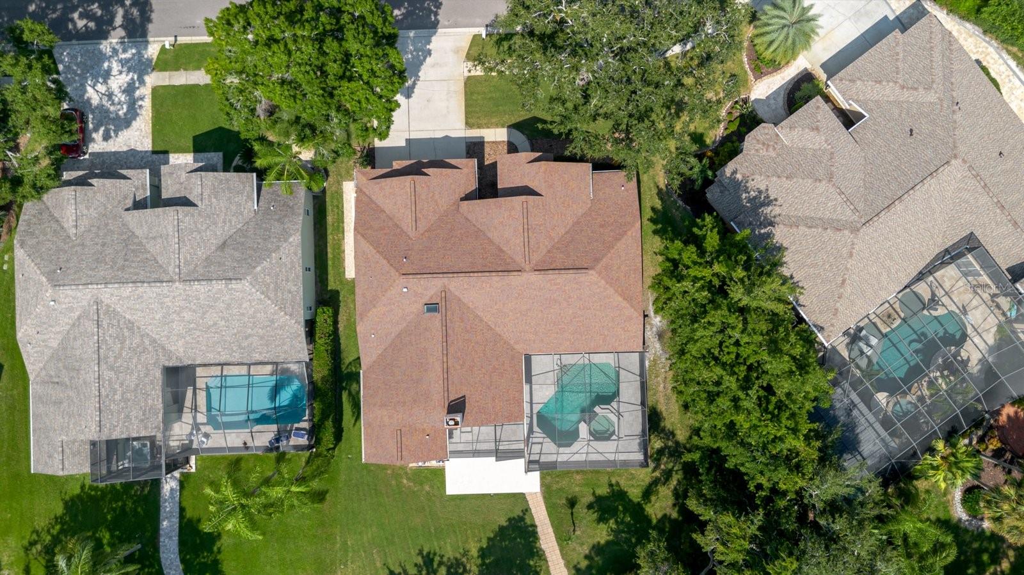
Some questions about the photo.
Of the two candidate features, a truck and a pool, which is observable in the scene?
pool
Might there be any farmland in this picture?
No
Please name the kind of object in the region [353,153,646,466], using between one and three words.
house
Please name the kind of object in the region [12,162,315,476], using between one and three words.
house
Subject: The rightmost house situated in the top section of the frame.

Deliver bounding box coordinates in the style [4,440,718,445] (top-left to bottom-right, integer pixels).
[704,12,1024,358]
